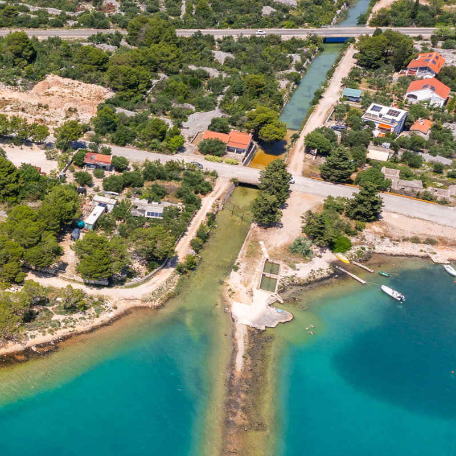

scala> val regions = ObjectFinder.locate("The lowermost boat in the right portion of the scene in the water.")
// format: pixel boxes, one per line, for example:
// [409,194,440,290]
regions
[380,284,408,301]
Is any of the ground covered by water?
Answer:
Yes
